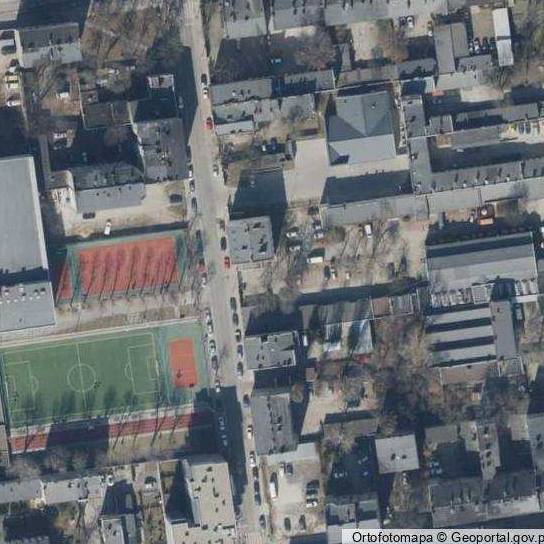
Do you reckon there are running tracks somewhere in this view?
Yes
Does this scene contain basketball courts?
Yes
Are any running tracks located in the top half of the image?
No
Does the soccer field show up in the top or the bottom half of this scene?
bottom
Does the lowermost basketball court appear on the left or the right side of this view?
left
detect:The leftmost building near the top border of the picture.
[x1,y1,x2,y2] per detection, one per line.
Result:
[17,22,82,70]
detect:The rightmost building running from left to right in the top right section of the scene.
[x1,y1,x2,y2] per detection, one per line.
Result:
[502,102,539,122]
